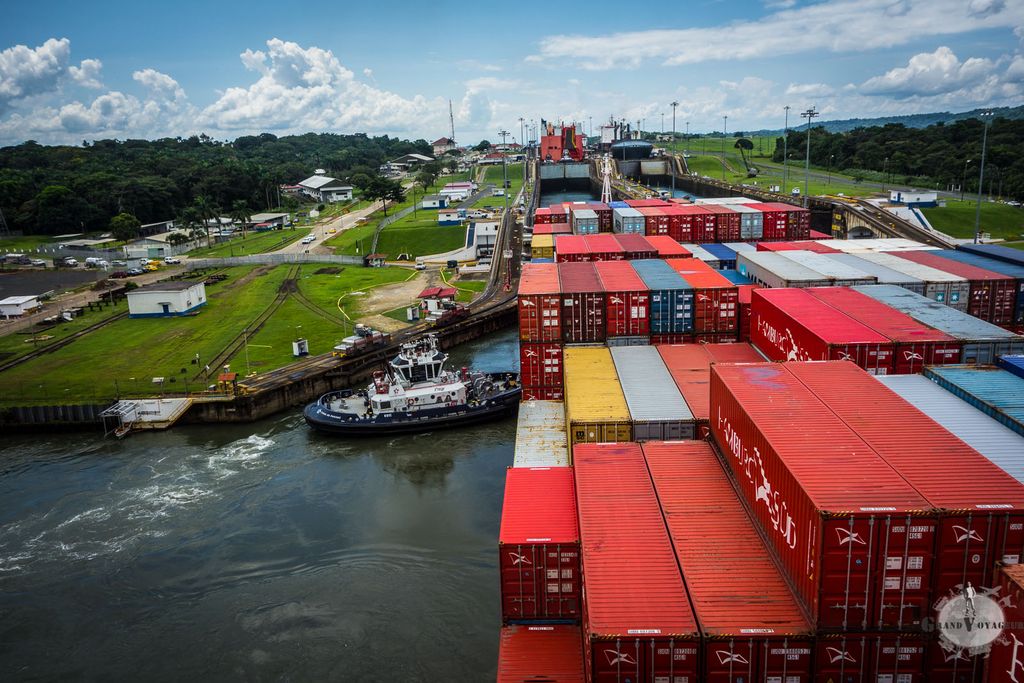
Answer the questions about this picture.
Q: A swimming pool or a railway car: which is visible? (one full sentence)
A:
The one in the frame is a railway car.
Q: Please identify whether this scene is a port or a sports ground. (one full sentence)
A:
What you see here is a port.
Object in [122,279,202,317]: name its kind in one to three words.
building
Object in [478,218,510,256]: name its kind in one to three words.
building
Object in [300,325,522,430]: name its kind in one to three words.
boat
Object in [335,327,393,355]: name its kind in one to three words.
rail car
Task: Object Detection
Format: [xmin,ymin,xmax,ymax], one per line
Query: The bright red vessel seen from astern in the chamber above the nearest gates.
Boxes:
[540,117,589,161]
